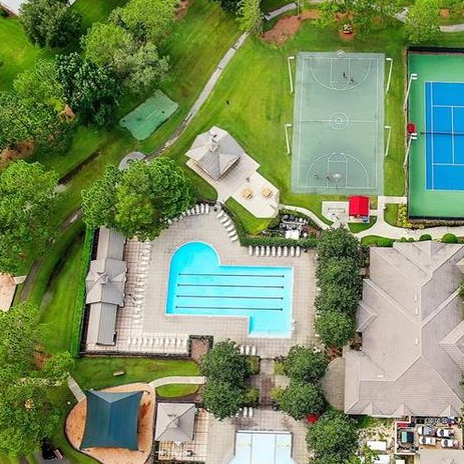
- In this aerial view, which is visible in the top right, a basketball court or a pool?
basketball court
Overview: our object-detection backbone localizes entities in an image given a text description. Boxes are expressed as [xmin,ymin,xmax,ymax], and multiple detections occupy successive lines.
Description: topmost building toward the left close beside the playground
[85,226,129,347]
